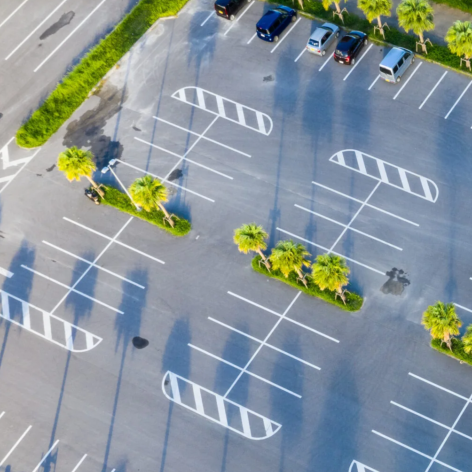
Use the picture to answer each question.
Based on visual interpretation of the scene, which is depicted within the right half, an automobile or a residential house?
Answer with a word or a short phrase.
automobile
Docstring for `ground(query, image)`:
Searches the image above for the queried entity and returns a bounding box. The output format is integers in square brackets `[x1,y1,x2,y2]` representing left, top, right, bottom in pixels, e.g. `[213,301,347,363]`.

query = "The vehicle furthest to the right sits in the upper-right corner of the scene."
[378,45,413,81]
